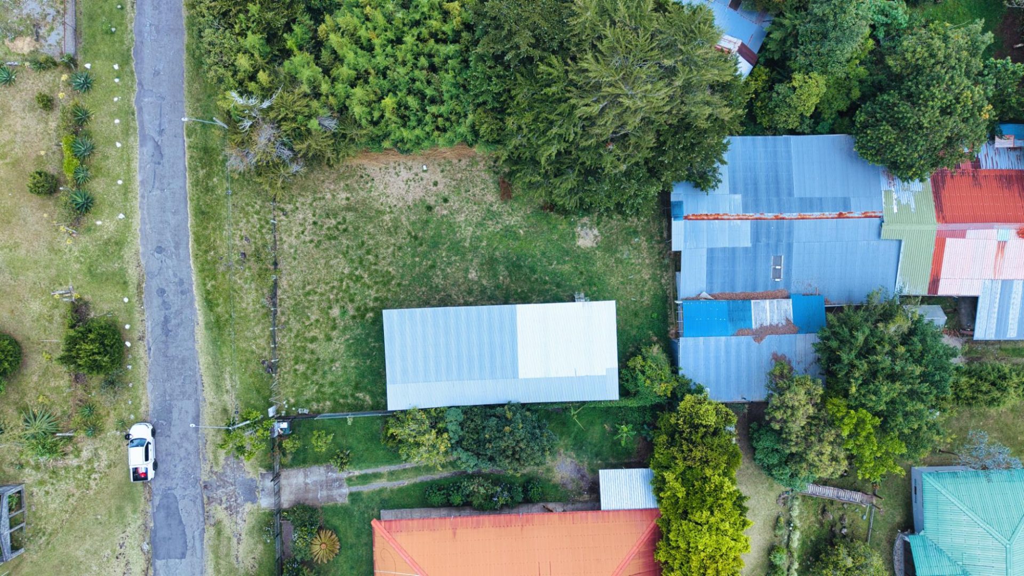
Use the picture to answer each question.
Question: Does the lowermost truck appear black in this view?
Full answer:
No, the lowermost truck is white.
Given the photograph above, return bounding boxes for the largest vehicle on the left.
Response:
[125,422,157,484]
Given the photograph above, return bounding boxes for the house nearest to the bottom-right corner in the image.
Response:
[910,463,1024,576]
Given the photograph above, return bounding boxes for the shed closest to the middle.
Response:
[383,300,619,410]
